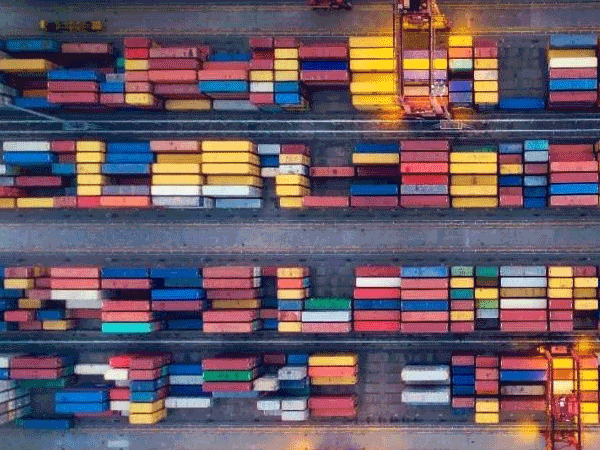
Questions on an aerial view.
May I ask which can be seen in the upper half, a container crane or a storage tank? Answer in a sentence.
Looking in the upper half, you will find a container crane.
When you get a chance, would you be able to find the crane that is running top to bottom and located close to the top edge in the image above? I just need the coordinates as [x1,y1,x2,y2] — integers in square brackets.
[391,0,447,115]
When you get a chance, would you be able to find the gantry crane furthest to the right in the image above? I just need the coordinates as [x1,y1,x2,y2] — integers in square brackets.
[535,345,586,450]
